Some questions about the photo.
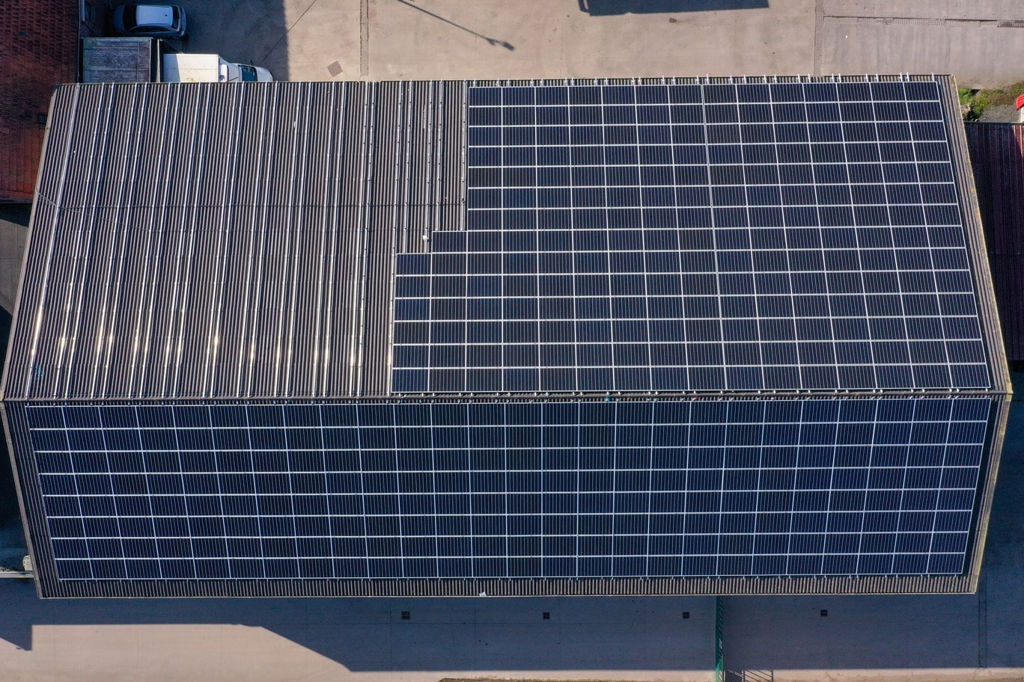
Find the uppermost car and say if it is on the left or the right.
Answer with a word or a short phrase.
left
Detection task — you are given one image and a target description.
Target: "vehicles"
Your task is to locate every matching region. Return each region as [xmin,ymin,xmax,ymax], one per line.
[163,53,278,82]
[114,0,190,40]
